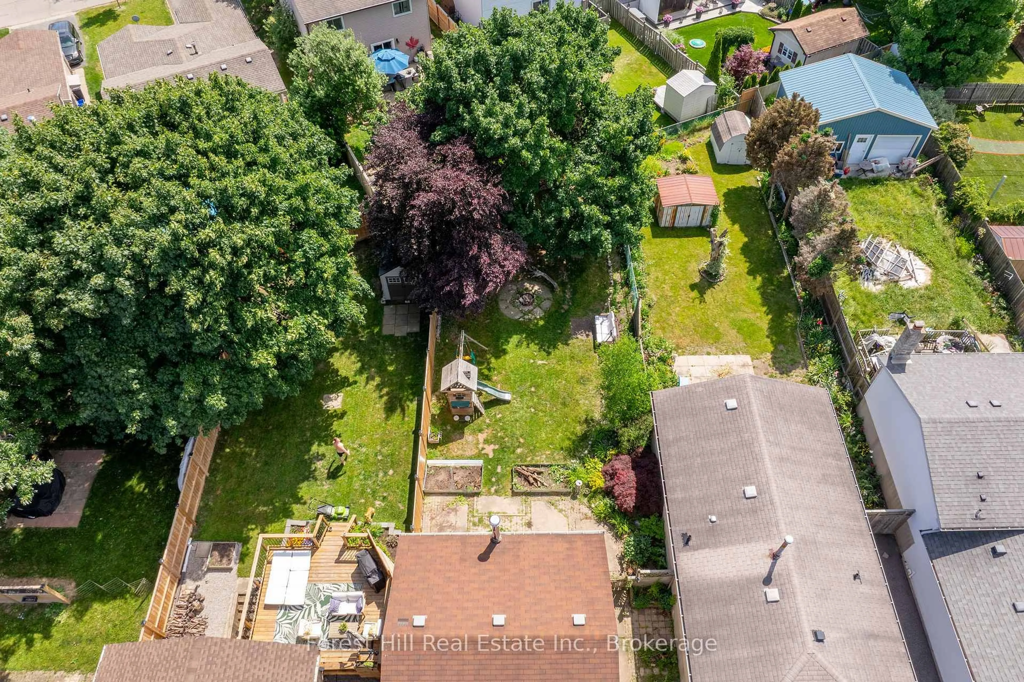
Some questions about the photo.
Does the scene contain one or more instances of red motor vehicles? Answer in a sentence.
No, no red motor vehicle can be seen from above.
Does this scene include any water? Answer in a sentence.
No, no water is visible.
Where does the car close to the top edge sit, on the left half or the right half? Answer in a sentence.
The car close to the top edge is on the left side of the image.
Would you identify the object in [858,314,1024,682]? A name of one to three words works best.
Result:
house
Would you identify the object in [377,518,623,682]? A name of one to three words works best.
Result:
house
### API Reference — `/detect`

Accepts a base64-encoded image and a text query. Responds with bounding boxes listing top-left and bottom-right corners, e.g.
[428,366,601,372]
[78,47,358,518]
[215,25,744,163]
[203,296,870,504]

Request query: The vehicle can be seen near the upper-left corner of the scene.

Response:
[42,16,84,58]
